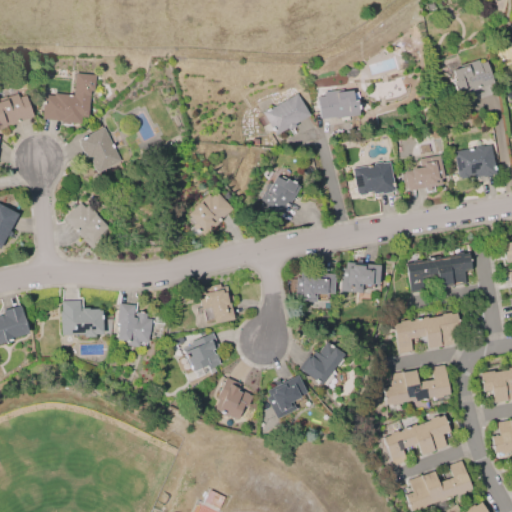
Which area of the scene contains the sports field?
bottom left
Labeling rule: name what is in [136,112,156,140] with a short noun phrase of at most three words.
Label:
swimming pool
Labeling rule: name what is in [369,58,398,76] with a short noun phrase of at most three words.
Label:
swimming pool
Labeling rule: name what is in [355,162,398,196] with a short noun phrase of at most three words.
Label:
house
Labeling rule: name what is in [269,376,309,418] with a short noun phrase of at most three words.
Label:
house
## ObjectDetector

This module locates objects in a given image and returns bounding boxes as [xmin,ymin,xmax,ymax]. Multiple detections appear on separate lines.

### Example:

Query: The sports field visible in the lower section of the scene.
[0,403,179,512]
